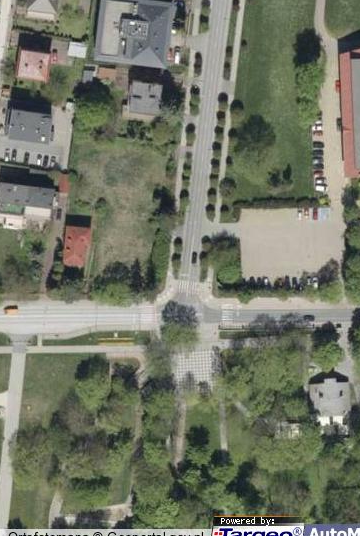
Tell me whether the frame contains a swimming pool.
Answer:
No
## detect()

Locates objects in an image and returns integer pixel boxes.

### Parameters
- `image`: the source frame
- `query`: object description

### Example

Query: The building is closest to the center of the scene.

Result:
[63,226,91,266]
